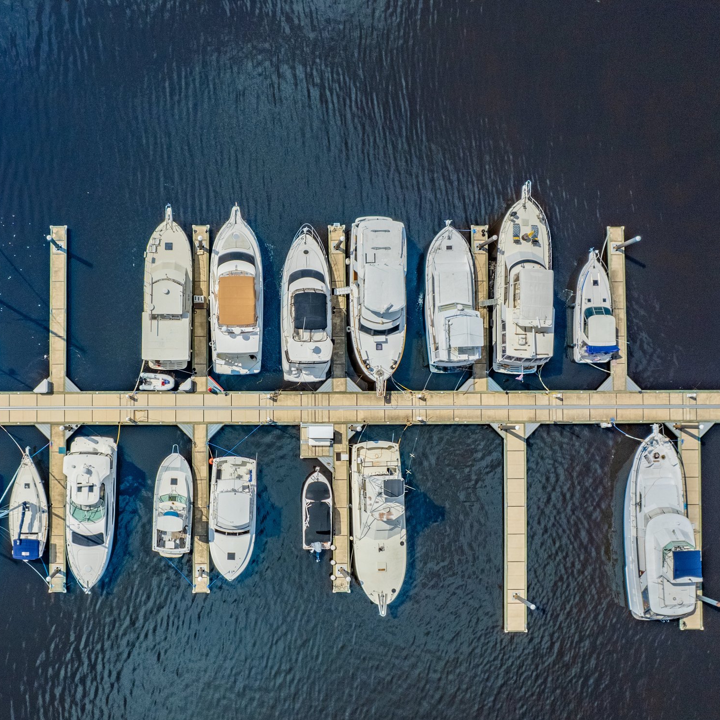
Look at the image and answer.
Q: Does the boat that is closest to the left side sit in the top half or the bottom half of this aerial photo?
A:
bottom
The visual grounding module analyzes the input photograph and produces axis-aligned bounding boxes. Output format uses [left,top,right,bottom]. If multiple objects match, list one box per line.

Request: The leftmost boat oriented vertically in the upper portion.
[143,203,194,370]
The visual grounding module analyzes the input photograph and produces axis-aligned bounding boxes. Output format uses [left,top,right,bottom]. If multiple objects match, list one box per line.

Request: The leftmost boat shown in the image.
[0,446,52,562]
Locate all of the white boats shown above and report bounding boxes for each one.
[208,450,258,581]
[63,437,118,594]
[492,178,554,381]
[152,444,194,557]
[279,223,334,383]
[348,435,419,617]
[569,248,630,364]
[0,446,52,562]
[424,220,484,373]
[135,373,175,391]
[624,423,702,623]
[143,203,194,370]
[208,202,264,374]
[343,216,408,397]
